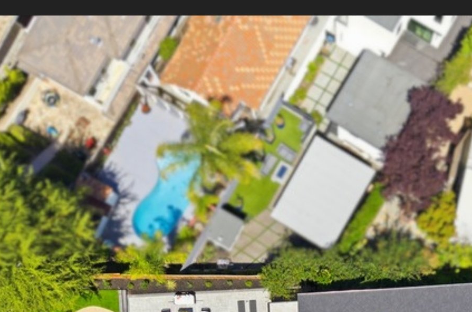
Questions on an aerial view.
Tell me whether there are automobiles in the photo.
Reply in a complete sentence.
No, the picture doesn't show any automobile.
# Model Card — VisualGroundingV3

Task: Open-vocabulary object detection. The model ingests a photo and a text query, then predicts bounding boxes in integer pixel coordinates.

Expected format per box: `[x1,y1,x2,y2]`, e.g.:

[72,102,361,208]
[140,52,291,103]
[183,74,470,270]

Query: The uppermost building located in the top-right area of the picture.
[335,15,458,66]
